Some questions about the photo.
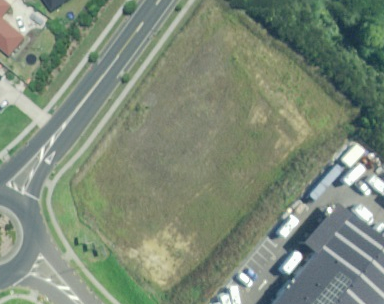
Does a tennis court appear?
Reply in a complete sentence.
No, the photo shows no tennis court.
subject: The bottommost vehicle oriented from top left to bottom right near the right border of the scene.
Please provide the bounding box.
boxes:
[352,204,372,223]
